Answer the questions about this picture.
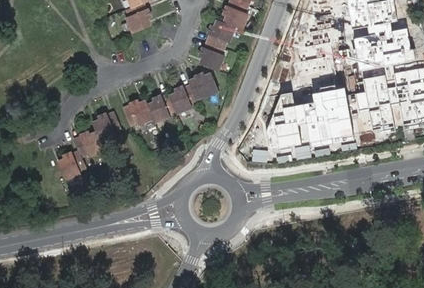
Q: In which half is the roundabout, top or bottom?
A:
bottom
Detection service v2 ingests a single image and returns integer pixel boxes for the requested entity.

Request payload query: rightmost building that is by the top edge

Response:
[348,0,424,79]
